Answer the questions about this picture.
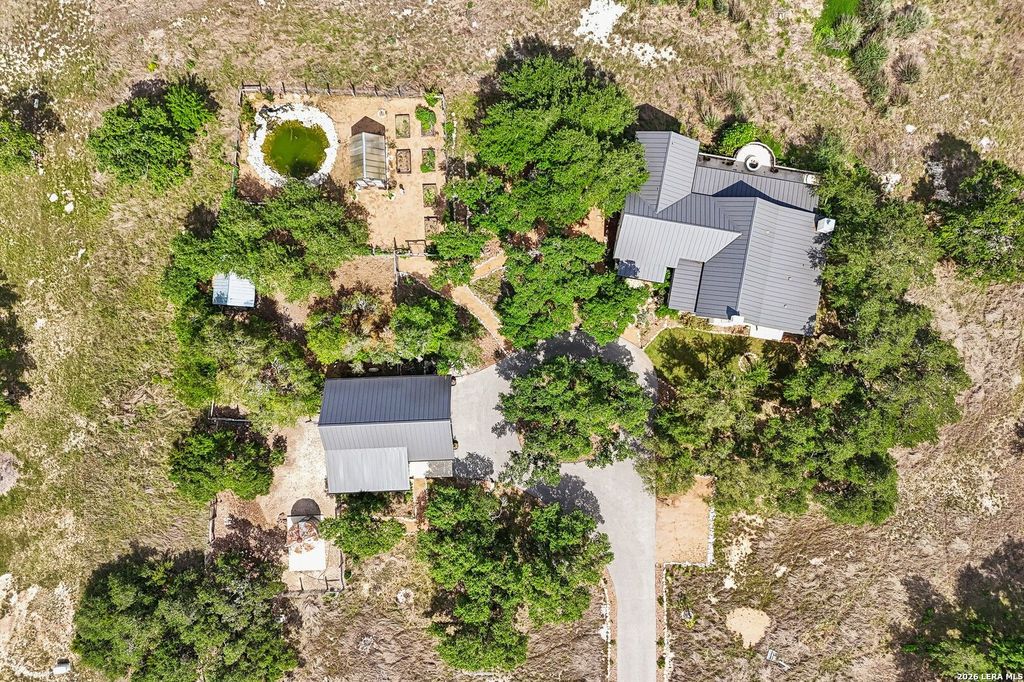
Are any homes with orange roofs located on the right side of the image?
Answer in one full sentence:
No, the scene shows no home with an orange roof on the right side of the image.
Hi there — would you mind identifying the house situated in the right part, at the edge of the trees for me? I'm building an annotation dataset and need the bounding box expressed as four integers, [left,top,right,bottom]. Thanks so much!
[613,131,836,336]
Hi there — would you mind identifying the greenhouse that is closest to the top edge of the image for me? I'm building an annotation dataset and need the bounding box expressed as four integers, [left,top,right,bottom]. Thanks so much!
[348,132,389,189]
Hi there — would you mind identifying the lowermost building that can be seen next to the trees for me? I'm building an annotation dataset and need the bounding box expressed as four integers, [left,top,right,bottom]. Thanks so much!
[318,376,453,493]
